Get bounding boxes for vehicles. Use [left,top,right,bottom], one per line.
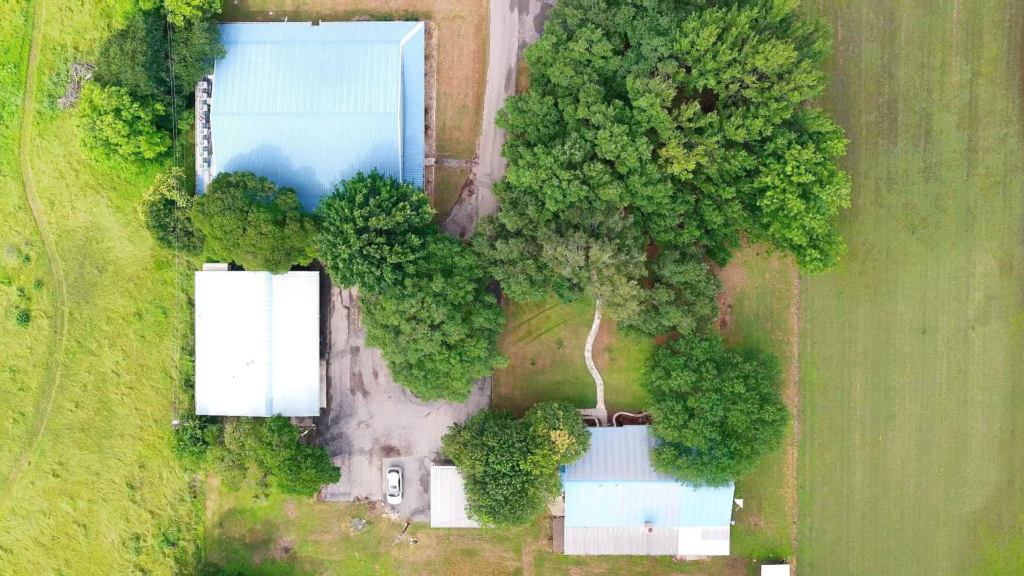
[386,467,403,504]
